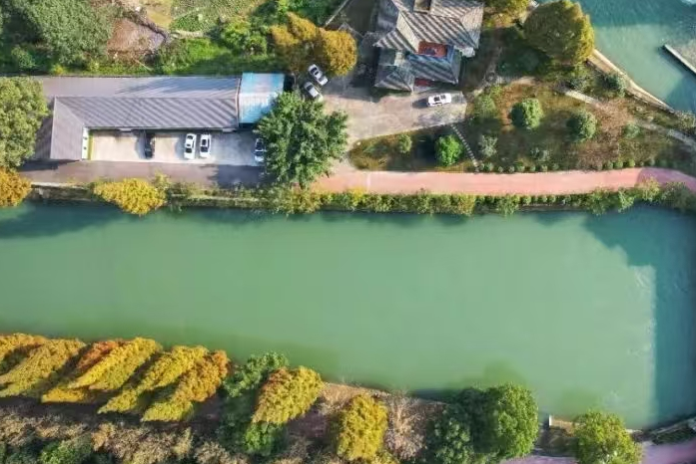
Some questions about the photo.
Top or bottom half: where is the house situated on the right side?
top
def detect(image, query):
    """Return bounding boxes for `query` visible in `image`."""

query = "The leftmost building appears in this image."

[0,75,241,160]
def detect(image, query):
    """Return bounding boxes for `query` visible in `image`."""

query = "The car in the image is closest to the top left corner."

[142,133,155,157]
